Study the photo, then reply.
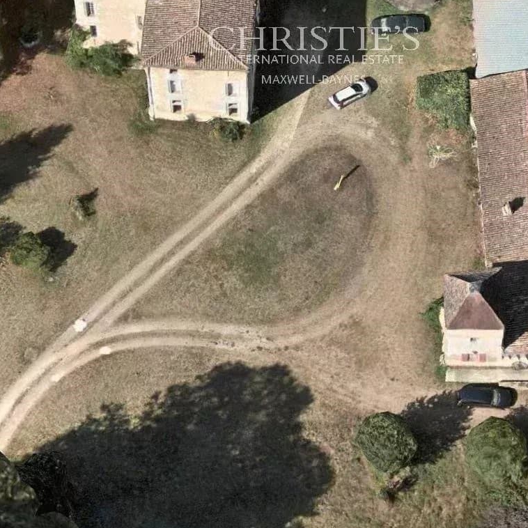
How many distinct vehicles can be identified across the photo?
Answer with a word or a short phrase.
3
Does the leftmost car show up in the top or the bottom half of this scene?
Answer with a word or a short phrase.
top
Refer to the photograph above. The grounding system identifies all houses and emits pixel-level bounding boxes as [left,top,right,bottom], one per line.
[467,66,528,369]
[140,0,260,122]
